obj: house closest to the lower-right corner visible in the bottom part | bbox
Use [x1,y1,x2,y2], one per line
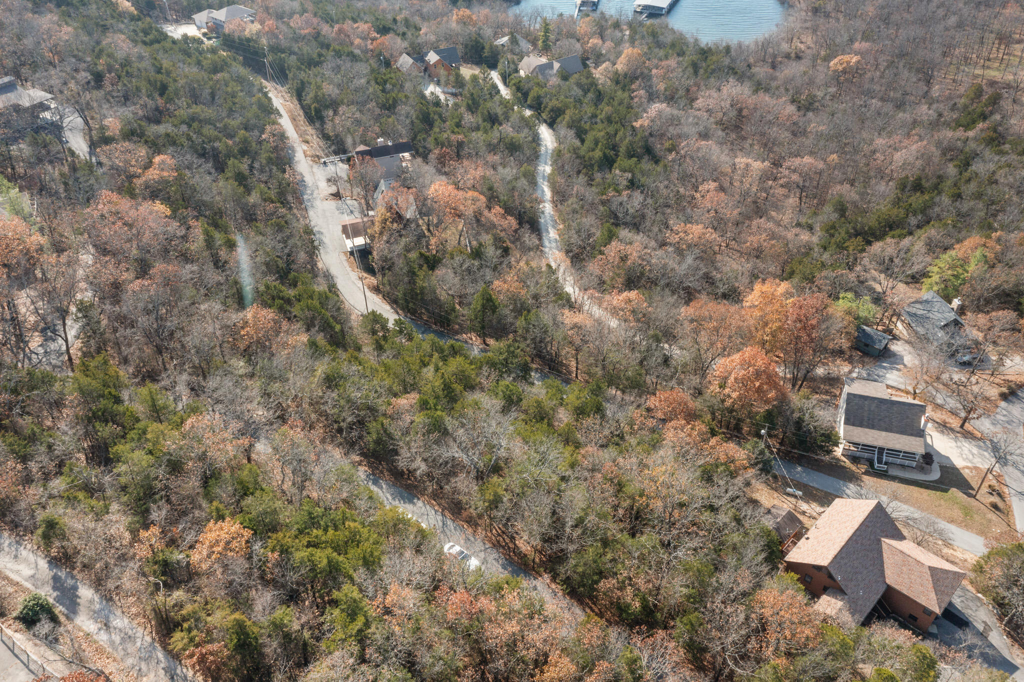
[768,496,965,668]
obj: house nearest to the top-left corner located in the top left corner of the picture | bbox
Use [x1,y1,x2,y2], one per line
[0,73,64,130]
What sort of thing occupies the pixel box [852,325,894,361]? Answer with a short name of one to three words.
shed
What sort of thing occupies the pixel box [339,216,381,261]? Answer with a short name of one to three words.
building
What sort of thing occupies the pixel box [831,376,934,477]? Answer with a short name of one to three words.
house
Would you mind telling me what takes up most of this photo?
trees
